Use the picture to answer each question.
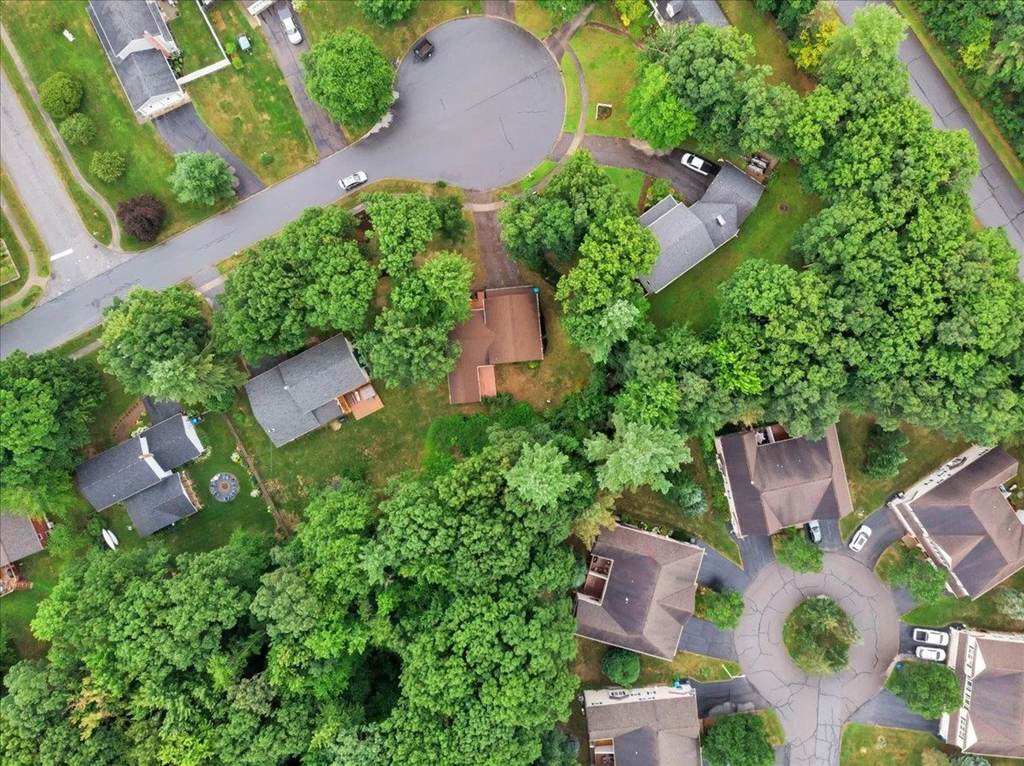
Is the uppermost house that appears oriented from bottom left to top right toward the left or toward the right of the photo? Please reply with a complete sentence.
The uppermost house that appears oriented from bottom left to top right is on the right side of the image.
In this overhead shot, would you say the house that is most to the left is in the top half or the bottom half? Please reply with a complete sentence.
The bottom half of the photo is where the house that is most to the left is.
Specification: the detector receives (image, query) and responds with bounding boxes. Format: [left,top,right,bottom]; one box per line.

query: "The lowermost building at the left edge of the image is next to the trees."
[0,505,54,595]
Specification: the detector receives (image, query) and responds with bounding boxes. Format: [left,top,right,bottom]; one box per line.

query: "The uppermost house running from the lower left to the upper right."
[625,152,765,290]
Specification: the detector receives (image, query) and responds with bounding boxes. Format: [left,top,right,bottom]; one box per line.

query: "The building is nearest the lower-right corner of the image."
[938,627,1024,761]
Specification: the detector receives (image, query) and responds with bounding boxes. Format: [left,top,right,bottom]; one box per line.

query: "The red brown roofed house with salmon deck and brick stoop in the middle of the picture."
[445,284,544,405]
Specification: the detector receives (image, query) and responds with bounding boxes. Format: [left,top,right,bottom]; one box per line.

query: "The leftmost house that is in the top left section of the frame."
[81,0,188,116]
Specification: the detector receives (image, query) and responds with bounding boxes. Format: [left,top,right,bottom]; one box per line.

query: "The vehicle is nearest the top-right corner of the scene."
[680,152,718,177]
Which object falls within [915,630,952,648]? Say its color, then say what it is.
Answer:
white vehicle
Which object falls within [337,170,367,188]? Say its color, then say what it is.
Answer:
white car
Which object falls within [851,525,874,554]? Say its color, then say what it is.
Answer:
white car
